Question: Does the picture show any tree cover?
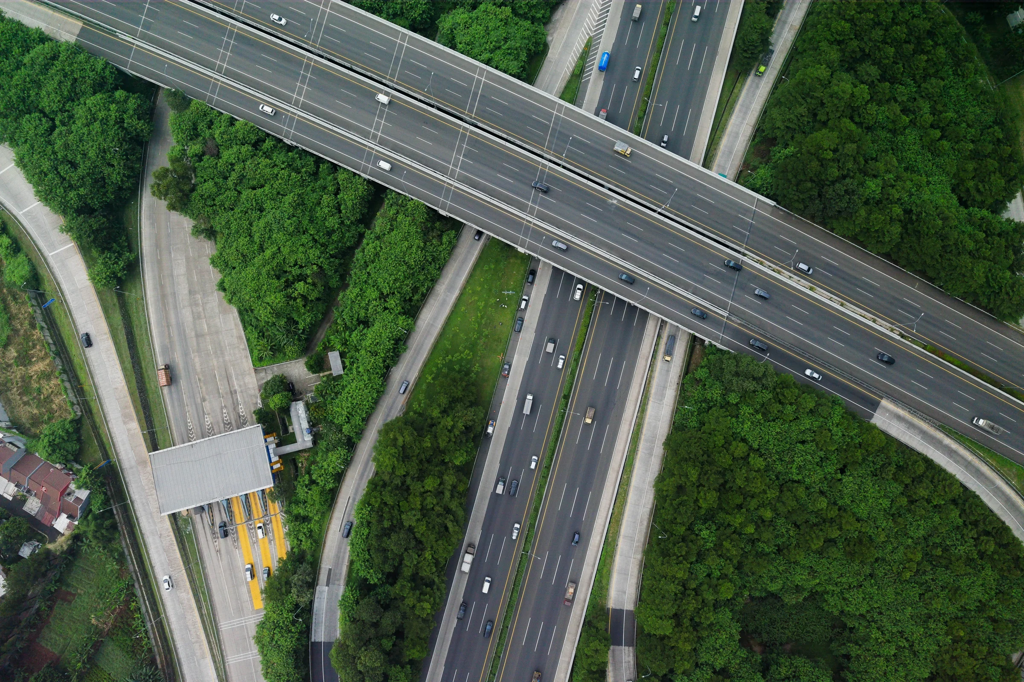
Yes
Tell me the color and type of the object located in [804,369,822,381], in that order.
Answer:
white vehicle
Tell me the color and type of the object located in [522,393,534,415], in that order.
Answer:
white vehicle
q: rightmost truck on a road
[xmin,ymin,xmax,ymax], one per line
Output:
[971,415,1005,437]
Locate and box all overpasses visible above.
[43,0,1021,443]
